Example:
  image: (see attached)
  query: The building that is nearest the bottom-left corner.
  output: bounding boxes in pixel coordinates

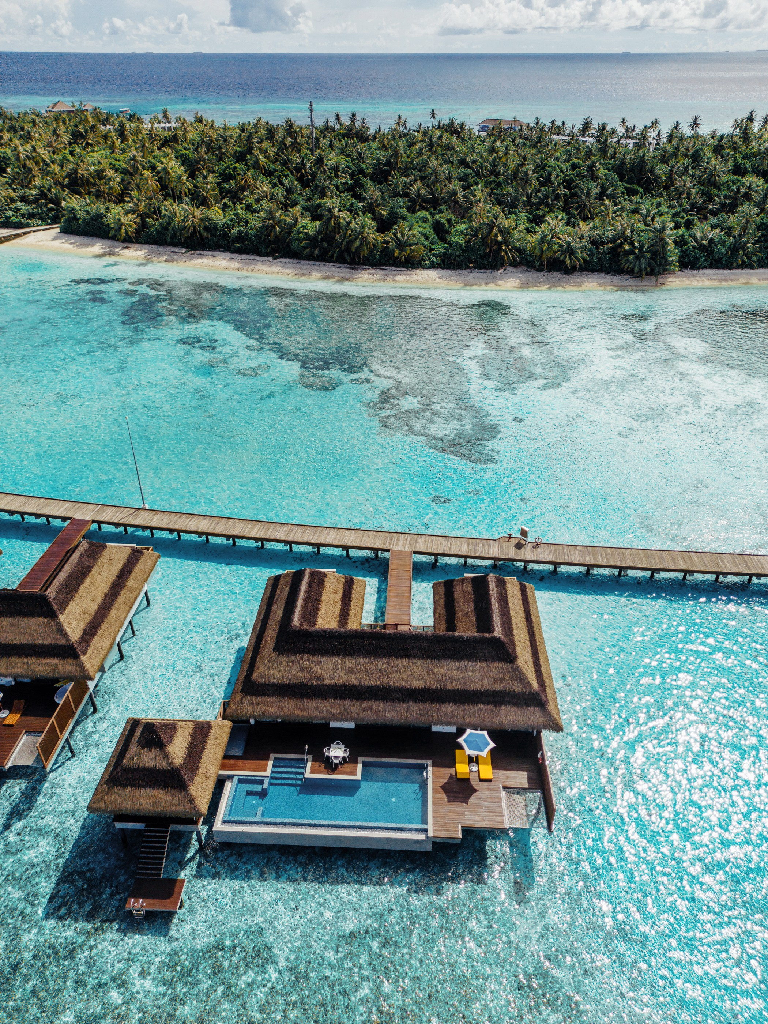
[84,714,235,854]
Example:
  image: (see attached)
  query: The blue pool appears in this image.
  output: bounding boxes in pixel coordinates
[212,754,433,857]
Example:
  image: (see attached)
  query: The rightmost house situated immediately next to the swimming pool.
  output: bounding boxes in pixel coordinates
[224,563,564,736]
